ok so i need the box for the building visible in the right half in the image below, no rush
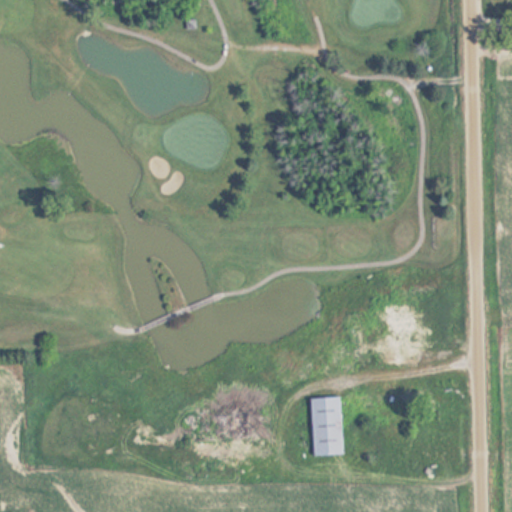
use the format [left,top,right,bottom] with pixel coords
[311,396,344,458]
